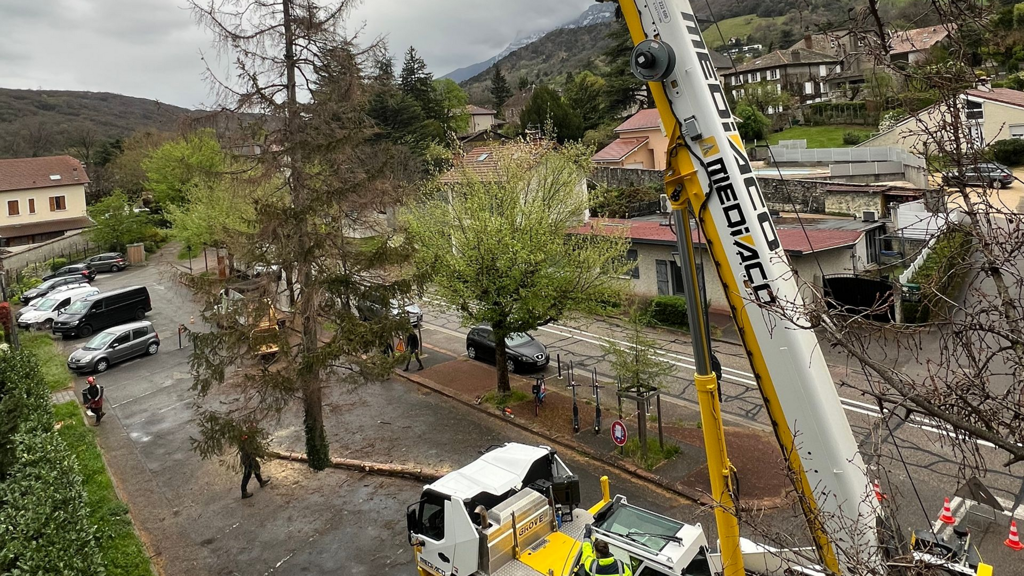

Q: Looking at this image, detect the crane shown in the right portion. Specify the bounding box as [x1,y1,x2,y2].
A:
[406,0,994,576]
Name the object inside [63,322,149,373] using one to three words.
car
